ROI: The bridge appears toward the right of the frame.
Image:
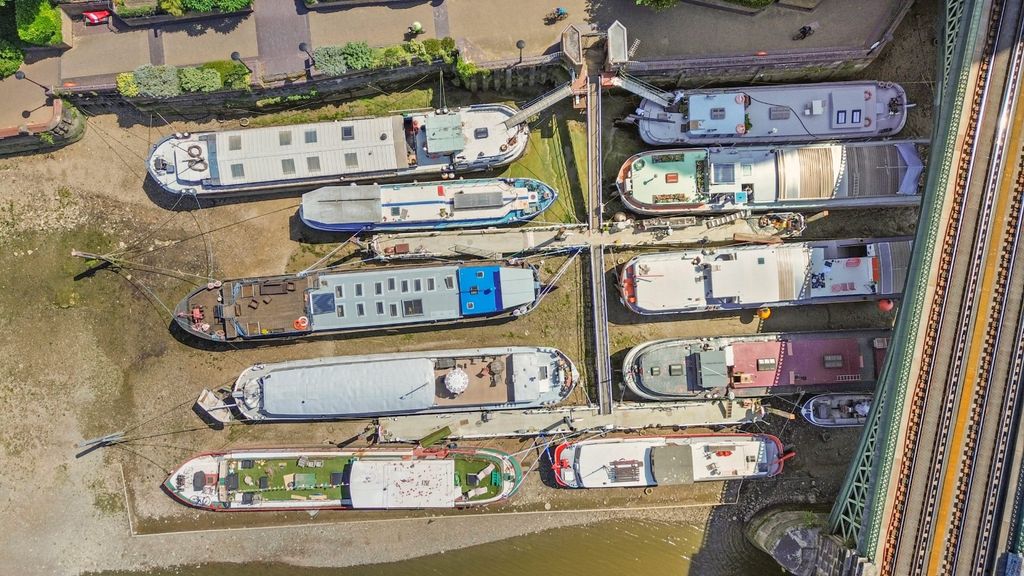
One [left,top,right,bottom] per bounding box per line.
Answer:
[822,0,1024,576]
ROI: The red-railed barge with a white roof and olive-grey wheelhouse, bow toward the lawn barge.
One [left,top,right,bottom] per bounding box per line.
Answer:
[550,429,801,491]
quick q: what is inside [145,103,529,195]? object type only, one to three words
boat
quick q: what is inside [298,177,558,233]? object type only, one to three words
boat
